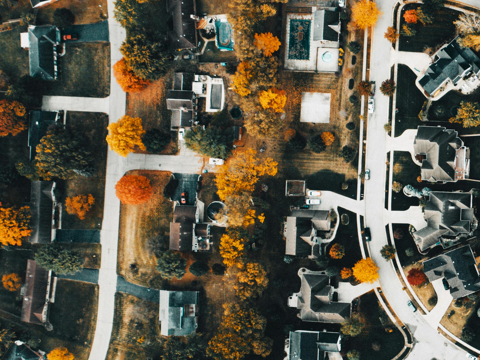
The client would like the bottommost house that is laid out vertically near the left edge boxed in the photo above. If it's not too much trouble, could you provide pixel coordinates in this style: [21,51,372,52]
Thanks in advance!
[20,258,51,325]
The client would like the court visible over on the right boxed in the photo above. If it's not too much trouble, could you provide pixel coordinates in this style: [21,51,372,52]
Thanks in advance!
[300,92,330,122]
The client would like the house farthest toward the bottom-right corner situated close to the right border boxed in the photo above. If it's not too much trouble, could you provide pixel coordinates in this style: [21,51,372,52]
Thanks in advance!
[419,235,480,296]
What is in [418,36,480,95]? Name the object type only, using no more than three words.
house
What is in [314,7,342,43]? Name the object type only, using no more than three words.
building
